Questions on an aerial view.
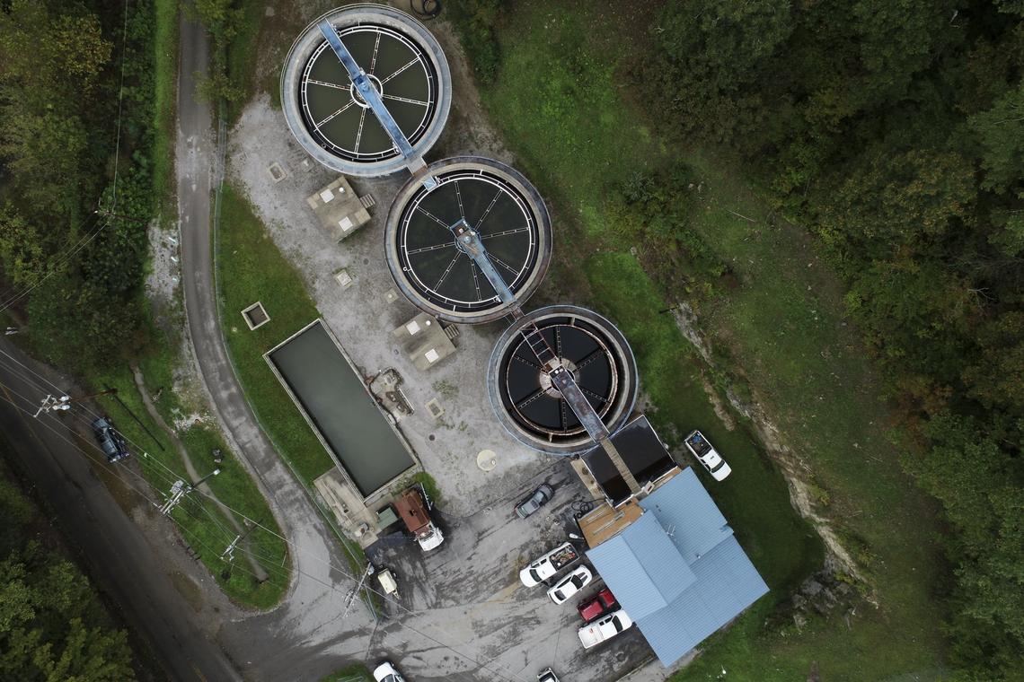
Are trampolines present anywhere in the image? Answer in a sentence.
No, I can't see a single trampoline in this photo.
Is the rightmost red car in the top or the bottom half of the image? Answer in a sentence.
Seen from above, the rightmost red car lies in the bottom half of the view.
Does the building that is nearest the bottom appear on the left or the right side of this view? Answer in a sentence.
The building that is nearest the bottom sits on the right side.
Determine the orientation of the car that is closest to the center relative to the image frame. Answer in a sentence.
What the image shows is the car that is closest to the center lying at an angle.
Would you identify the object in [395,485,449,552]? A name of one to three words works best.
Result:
truck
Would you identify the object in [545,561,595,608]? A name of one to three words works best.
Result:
car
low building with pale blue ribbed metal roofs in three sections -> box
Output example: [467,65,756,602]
[584,466,770,668]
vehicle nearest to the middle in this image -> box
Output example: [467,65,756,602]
[511,480,557,523]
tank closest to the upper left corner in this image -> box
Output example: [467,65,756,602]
[278,0,453,177]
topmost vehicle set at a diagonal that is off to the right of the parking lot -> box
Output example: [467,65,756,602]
[679,425,733,483]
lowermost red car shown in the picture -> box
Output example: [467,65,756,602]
[577,584,619,623]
